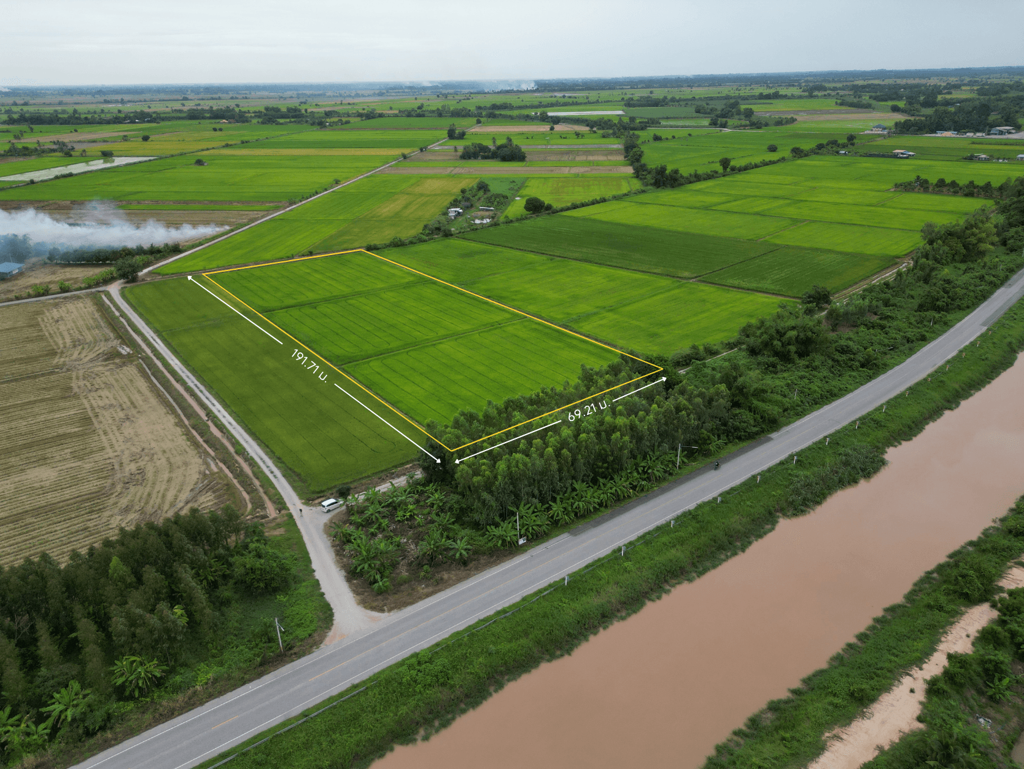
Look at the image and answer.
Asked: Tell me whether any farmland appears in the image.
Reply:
Yes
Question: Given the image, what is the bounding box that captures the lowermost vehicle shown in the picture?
[321,496,347,511]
